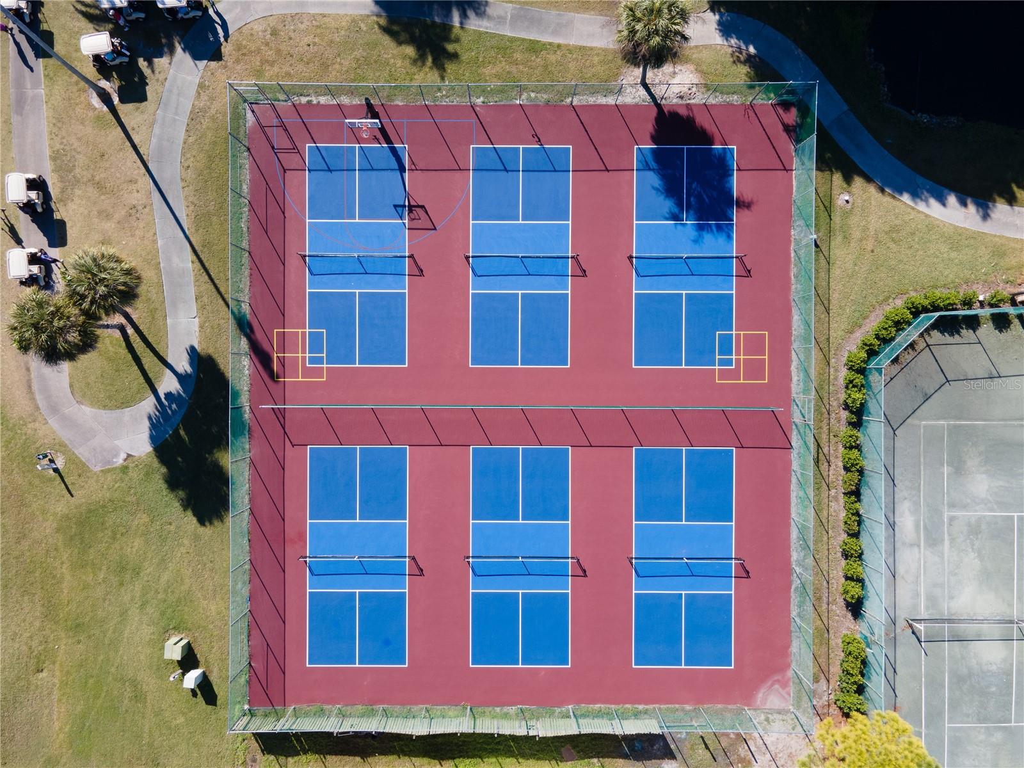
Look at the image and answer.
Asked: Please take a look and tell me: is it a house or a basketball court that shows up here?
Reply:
basketball court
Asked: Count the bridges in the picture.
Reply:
0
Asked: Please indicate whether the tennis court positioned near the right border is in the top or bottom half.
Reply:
bottom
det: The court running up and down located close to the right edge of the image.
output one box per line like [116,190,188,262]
[860,309,1024,768]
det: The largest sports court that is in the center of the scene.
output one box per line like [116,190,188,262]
[247,103,796,709]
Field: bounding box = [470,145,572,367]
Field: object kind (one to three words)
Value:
sports court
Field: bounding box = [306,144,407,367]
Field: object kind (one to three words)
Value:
sports court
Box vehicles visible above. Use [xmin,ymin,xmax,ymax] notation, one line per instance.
[6,245,49,289]
[101,0,151,21]
[82,30,134,68]
[5,173,47,215]
[0,0,37,22]
[161,0,209,22]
